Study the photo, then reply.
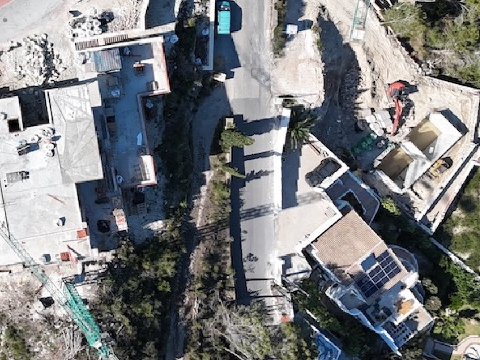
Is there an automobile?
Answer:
Yes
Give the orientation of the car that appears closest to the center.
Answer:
at an angle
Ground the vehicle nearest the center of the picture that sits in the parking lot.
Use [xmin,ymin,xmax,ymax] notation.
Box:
[302,158,338,185]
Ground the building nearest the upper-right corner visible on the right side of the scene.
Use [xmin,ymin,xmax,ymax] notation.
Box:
[368,111,463,194]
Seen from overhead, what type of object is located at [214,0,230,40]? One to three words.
vehicle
